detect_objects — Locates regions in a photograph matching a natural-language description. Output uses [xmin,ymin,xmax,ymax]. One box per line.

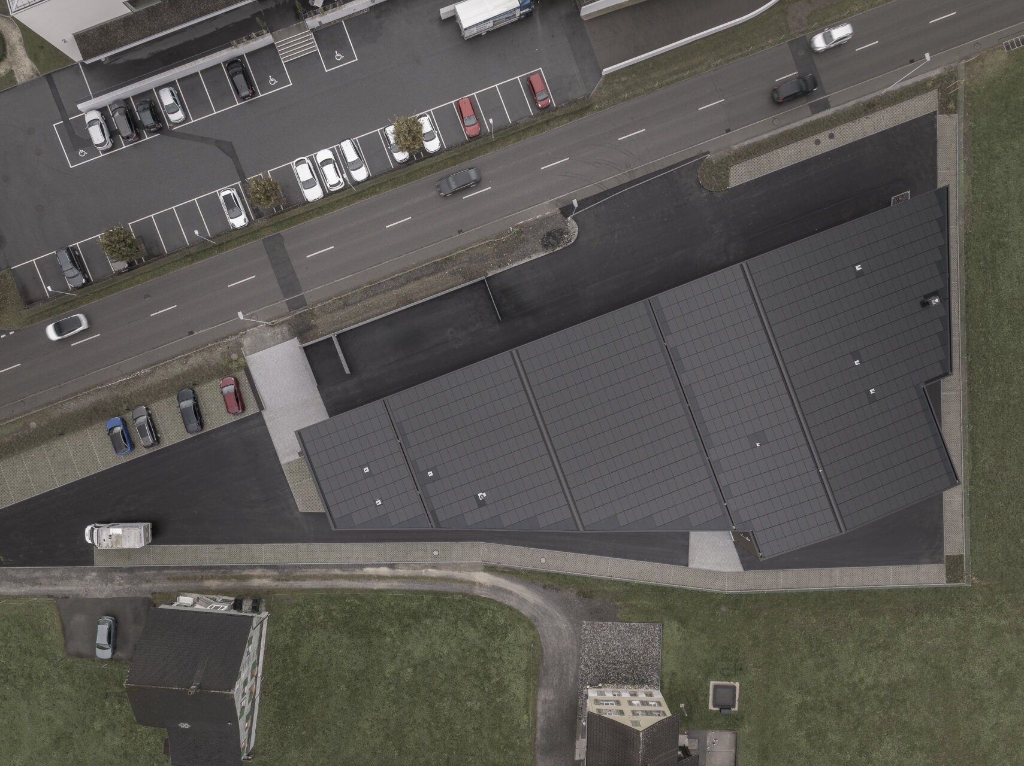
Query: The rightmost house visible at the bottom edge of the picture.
[586,689,699,766]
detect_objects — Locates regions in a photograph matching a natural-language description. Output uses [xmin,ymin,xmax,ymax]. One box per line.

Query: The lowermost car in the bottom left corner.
[95,617,119,657]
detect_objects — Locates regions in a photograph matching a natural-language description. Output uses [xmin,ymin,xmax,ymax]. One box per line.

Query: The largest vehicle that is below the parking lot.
[89,523,153,548]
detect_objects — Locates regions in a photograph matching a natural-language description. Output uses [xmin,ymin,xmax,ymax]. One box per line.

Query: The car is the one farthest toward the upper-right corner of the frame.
[810,23,853,53]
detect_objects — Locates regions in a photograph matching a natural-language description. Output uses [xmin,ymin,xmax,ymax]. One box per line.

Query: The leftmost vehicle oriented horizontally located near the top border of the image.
[456,0,538,41]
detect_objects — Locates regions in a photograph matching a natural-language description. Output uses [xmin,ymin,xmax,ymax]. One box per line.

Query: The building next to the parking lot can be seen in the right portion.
[296,188,958,560]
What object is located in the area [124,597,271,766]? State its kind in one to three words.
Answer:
house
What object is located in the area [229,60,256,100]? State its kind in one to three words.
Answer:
car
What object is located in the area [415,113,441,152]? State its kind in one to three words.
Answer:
car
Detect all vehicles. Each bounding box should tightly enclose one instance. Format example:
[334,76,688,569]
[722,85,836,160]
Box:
[229,60,256,100]
[85,112,114,150]
[295,157,324,200]
[138,100,163,134]
[95,617,119,657]
[57,247,89,287]
[456,97,481,137]
[318,151,344,190]
[340,139,368,181]
[178,390,204,432]
[810,23,853,53]
[384,125,410,163]
[221,377,247,414]
[107,418,134,455]
[456,0,538,41]
[133,407,161,447]
[221,189,248,227]
[89,523,153,548]
[415,113,441,152]
[50,314,90,340]
[112,101,141,142]
[110,255,133,273]
[159,86,187,123]
[528,73,550,109]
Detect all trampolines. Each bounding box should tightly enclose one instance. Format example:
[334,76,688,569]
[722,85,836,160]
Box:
[709,682,739,715]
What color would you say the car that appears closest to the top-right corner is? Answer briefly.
white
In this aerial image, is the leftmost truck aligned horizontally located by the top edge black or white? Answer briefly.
white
